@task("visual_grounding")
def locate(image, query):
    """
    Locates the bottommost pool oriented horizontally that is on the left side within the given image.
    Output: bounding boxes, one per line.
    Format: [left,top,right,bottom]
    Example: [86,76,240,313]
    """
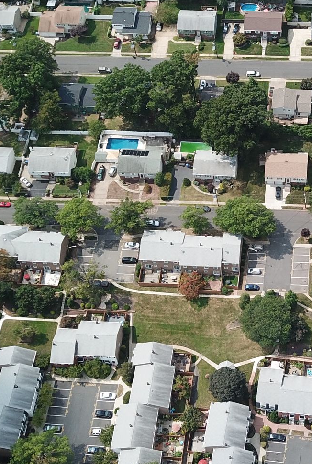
[104,137,140,149]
